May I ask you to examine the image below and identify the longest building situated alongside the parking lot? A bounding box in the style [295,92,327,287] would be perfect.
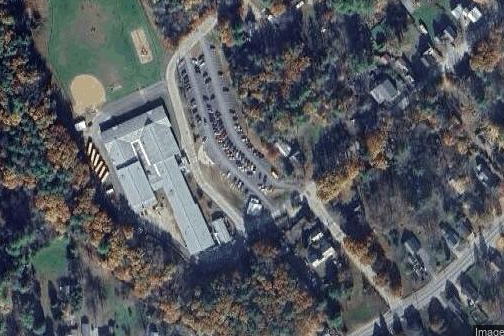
[101,105,215,255]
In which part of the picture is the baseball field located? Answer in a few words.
top left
